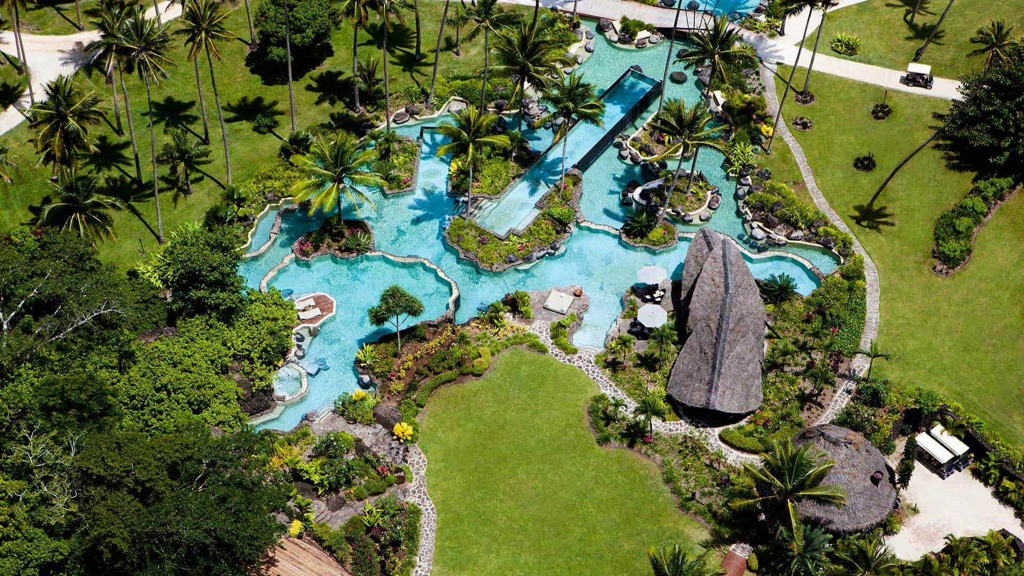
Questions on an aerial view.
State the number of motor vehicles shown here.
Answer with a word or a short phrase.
3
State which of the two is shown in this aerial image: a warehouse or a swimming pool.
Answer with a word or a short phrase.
swimming pool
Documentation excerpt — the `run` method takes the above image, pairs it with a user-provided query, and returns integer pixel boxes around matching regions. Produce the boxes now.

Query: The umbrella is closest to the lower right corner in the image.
[635,302,668,334]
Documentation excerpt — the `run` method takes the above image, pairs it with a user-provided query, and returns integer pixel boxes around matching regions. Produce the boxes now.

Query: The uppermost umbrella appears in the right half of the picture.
[636,262,668,293]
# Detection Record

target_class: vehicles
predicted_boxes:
[930,424,967,468]
[907,64,934,88]
[912,432,952,476]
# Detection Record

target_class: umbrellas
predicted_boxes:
[636,262,668,293]
[635,302,668,334]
